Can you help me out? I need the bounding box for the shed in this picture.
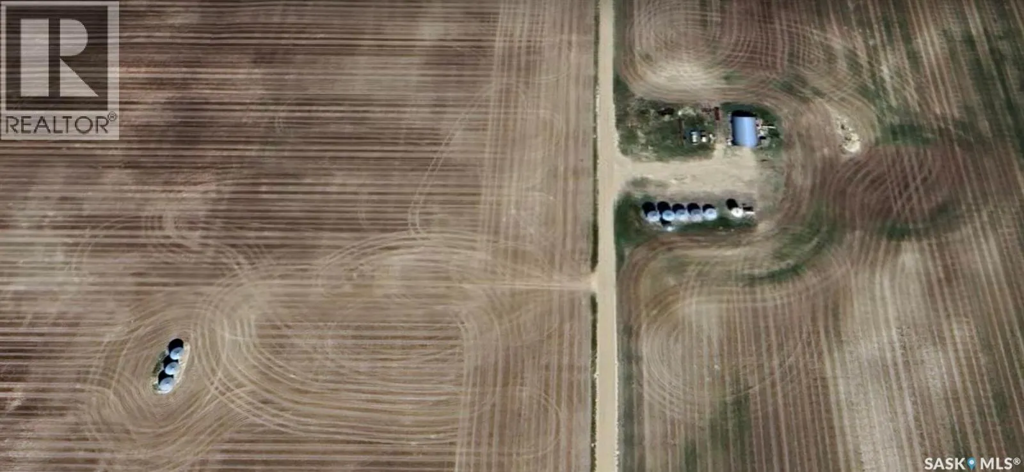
[731,116,758,149]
